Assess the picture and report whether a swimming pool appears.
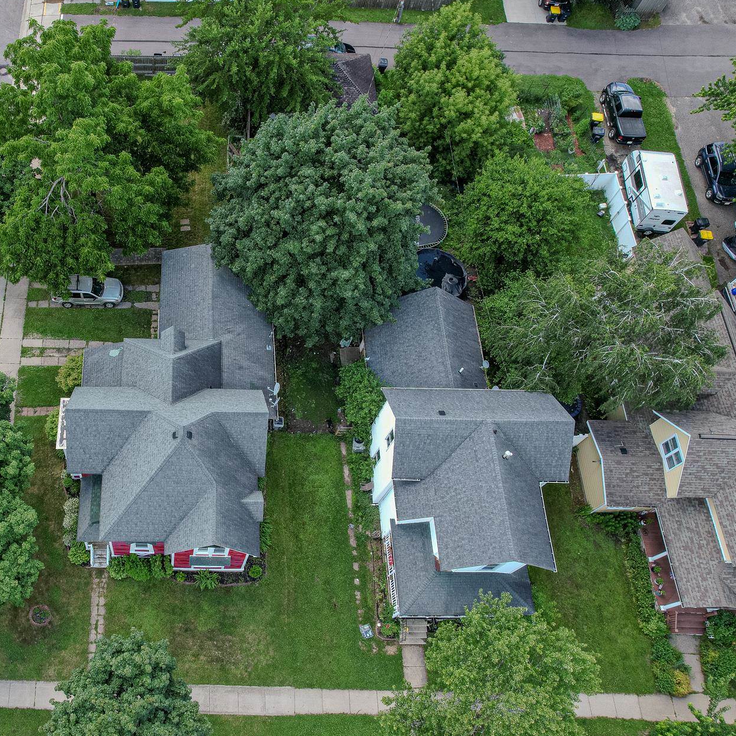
Yes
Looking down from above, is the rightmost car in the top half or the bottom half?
top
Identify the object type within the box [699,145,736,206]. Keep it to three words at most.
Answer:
car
